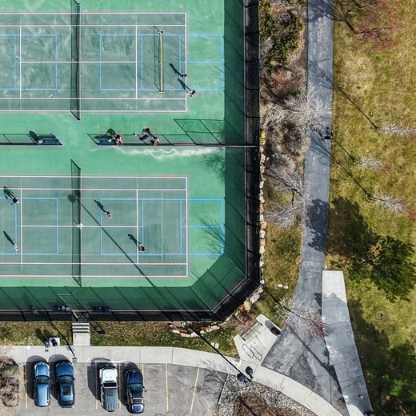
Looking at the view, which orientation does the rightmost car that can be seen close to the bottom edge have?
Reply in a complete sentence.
The rightmost car that can be seen close to the bottom edge runs vertically in the image.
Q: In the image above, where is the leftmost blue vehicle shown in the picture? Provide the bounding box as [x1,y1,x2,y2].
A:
[34,365,53,409]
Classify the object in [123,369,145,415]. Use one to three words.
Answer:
car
